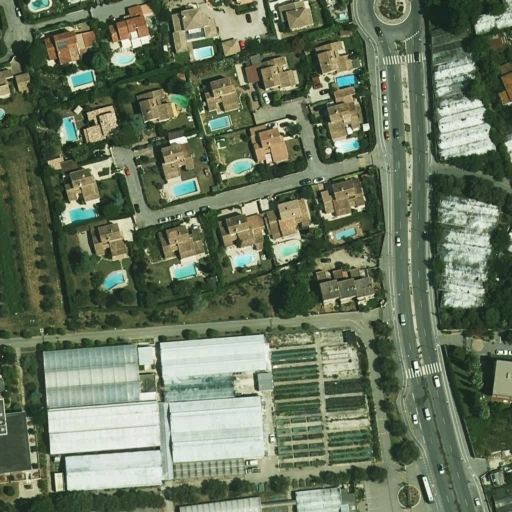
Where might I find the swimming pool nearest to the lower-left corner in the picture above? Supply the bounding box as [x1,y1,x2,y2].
[102,270,127,292]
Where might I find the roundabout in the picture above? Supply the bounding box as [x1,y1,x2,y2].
[373,0,412,25]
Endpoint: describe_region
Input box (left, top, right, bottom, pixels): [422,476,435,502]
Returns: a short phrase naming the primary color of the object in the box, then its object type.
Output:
white vehicle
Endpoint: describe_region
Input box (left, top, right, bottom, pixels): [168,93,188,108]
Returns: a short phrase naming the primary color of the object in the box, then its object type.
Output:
green swimming pool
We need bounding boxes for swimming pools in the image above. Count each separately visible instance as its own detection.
[221,159,255,180]
[102,270,127,292]
[227,250,256,273]
[66,69,96,92]
[60,116,80,145]
[28,0,52,12]
[336,12,349,23]
[192,46,215,61]
[274,240,300,260]
[334,138,360,152]
[328,222,364,244]
[64,198,100,225]
[170,258,198,281]
[208,116,232,134]
[110,50,136,68]
[335,74,357,89]
[164,178,200,202]
[168,93,188,108]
